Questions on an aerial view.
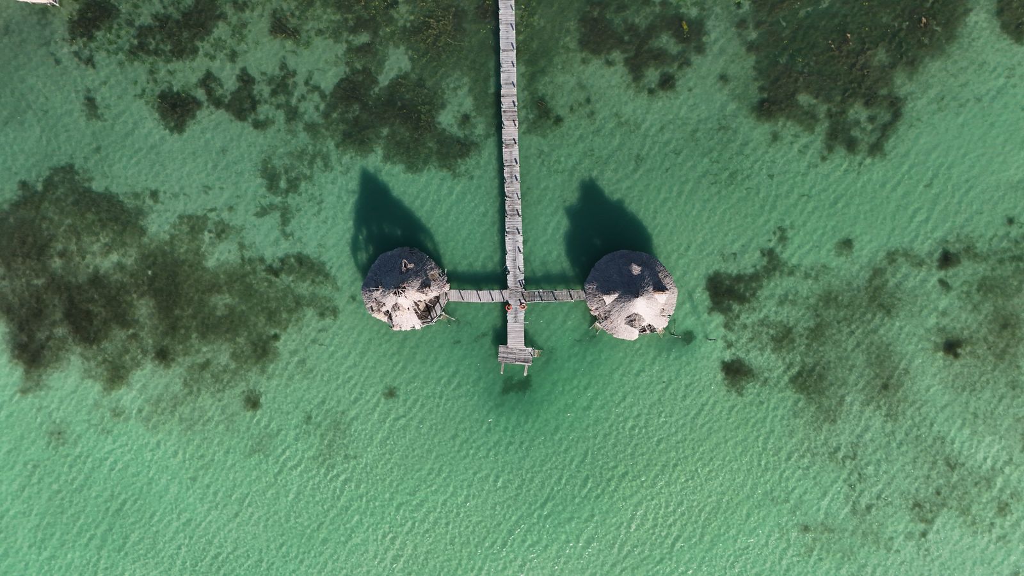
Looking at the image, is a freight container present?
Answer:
No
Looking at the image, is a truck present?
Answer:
No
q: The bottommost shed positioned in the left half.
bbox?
[361,246,451,333]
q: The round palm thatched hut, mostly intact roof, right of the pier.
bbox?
[583,249,678,341]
